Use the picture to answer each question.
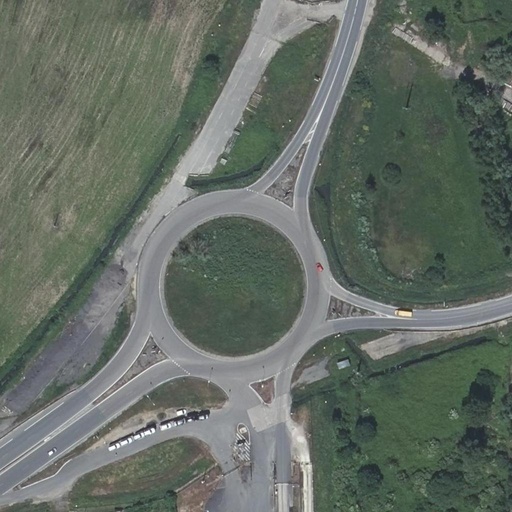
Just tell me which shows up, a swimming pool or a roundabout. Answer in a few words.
roundabout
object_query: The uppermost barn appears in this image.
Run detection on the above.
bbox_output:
[392,26,440,64]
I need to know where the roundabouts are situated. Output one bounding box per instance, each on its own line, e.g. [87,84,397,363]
[84,182,362,420]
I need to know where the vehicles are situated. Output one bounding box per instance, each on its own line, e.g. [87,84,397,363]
[316,263,322,272]
[394,310,413,316]
[178,419,188,424]
[198,414,209,420]
[48,448,57,456]
[144,428,156,435]
[108,443,120,450]
[132,432,144,440]
[120,438,132,446]
[176,409,186,415]
[160,424,172,430]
